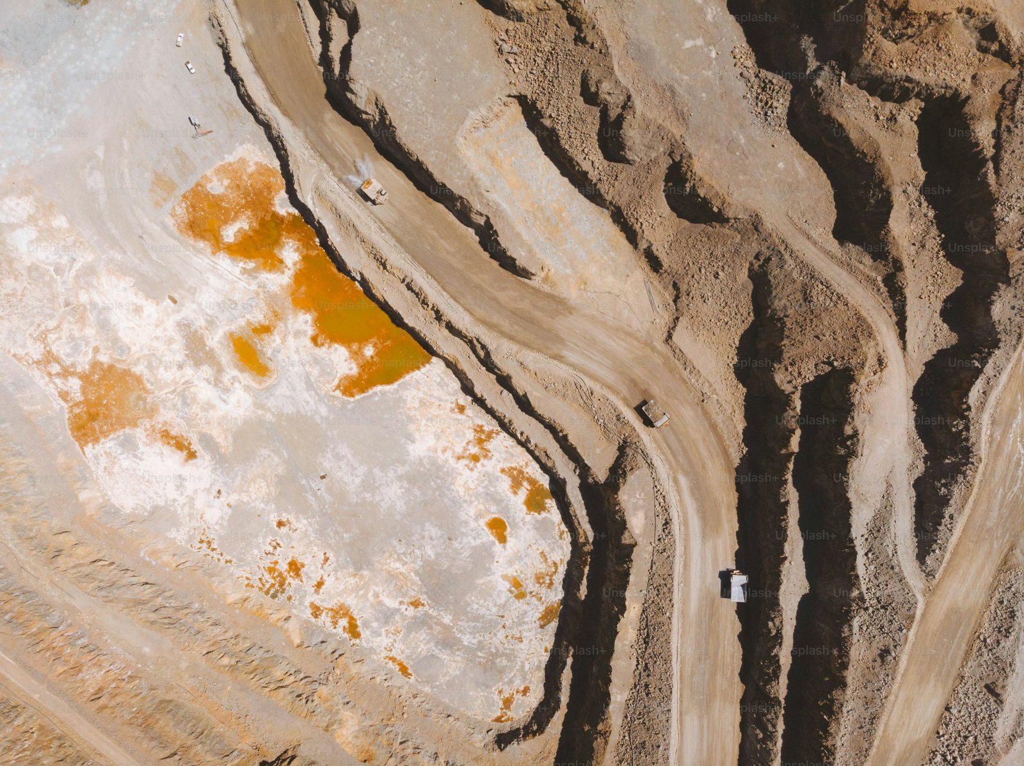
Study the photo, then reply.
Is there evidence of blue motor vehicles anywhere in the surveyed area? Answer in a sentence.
No, this view has no blue motor vehicle in it.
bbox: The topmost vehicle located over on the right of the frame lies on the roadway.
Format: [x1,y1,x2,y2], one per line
[643,399,670,429]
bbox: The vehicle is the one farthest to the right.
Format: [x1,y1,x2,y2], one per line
[726,570,745,600]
